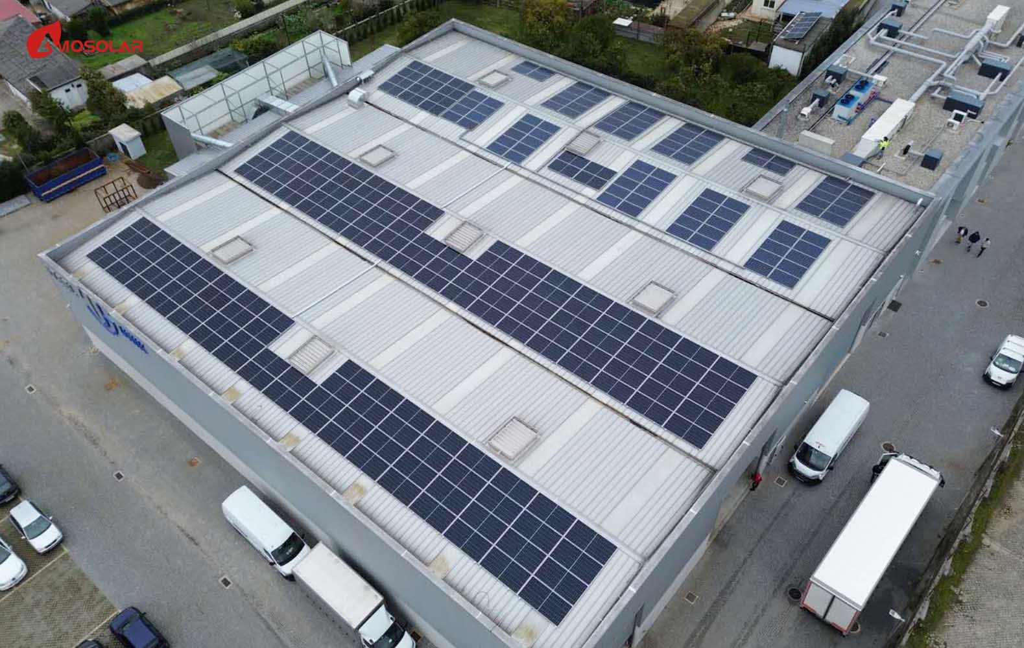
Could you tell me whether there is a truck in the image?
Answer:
Yes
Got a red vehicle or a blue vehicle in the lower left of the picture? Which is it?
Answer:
blue vehicle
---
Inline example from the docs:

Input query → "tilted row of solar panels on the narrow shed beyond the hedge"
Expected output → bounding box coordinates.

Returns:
[775,10,823,44]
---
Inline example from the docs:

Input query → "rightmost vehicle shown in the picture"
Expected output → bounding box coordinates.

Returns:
[984,330,1024,393]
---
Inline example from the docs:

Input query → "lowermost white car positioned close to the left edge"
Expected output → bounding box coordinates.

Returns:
[0,536,31,595]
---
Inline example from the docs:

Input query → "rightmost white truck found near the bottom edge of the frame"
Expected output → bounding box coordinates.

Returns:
[793,450,944,639]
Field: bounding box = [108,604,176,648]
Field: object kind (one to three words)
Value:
car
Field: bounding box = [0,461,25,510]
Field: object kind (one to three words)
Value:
car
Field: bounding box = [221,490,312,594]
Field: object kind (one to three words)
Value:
van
